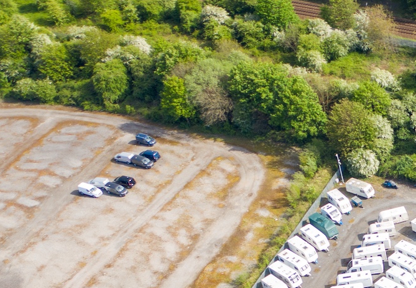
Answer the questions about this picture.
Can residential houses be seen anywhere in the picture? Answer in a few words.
No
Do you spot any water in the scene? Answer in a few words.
No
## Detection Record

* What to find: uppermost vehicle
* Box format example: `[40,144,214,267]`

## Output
[135,132,157,146]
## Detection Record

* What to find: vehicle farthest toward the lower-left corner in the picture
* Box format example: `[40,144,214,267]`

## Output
[78,183,103,198]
